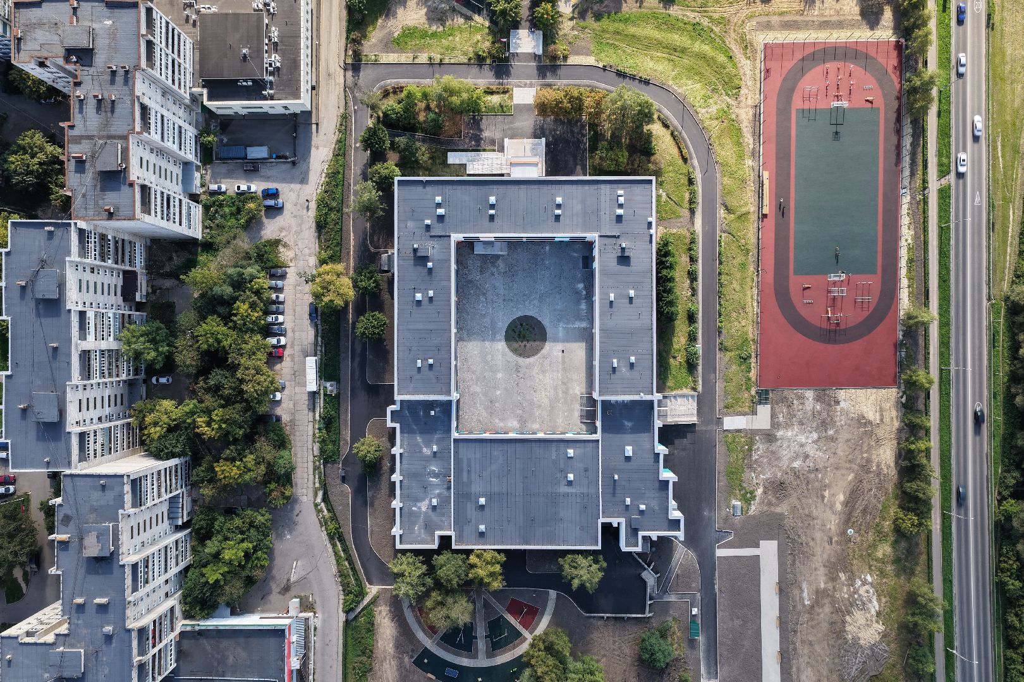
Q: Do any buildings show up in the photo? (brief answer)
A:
Yes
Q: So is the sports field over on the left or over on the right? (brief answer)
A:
right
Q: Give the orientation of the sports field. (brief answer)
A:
from top to bottom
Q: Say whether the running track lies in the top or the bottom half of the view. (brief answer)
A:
top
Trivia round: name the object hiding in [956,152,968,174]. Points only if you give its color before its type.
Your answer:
white vehicle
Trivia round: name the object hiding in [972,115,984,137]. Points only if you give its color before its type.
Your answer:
white vehicle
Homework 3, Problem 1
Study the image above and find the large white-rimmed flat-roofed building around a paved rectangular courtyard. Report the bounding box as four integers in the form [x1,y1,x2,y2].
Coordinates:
[381,138,701,552]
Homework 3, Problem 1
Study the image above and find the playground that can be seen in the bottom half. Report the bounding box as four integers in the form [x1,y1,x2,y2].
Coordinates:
[402,588,557,682]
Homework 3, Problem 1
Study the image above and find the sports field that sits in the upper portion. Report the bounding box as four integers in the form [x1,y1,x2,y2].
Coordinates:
[794,107,880,275]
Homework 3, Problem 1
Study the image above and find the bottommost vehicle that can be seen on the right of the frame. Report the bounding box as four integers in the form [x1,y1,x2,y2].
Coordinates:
[955,484,969,506]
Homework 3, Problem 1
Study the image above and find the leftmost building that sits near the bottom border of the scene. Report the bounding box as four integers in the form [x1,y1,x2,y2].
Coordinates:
[0,455,195,682]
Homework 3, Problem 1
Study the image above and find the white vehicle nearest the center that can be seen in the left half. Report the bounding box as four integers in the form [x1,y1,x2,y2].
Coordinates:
[305,358,319,390]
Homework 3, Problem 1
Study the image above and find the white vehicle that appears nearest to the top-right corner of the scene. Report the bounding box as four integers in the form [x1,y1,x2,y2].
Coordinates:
[956,54,968,76]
